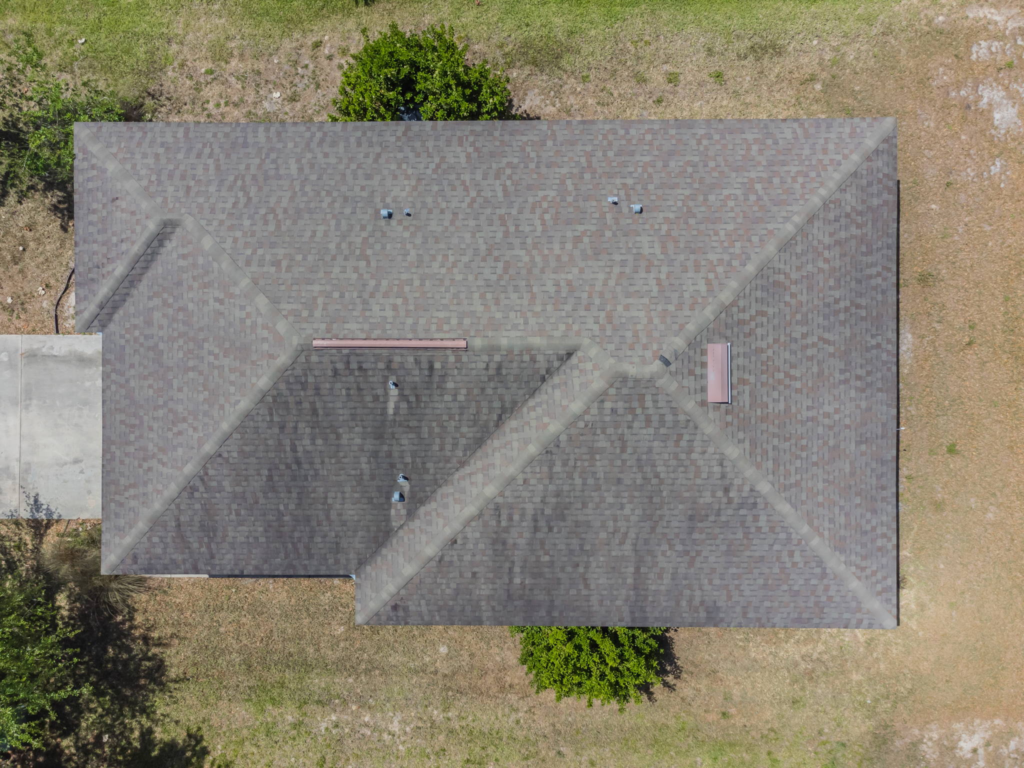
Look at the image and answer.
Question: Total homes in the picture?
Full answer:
My tally gives 1 home in this photo.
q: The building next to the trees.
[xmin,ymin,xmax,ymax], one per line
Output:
[73,116,905,627]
